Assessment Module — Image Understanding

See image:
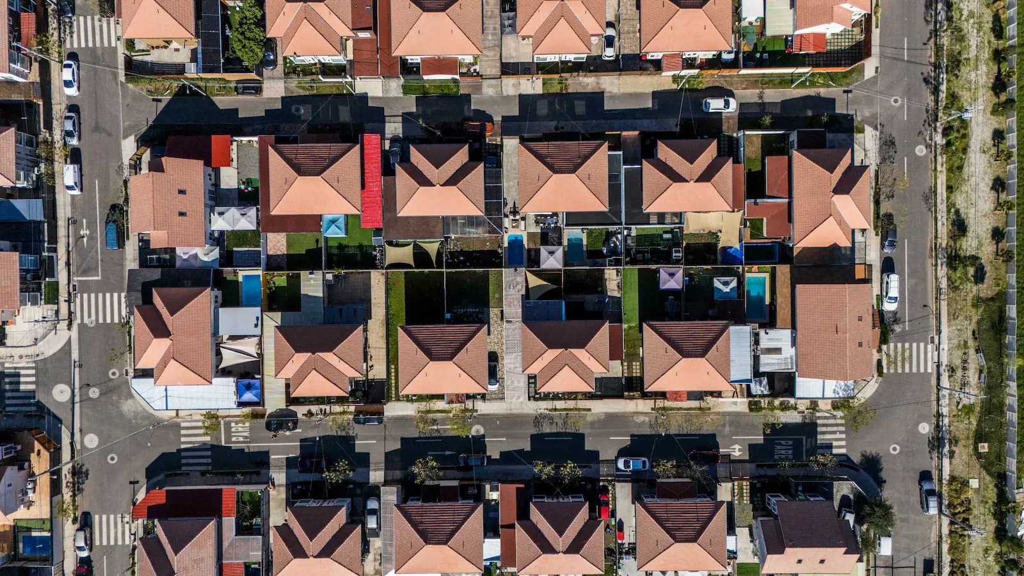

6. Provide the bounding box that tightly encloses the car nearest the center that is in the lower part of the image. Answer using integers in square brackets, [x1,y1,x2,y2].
[488,354,502,388]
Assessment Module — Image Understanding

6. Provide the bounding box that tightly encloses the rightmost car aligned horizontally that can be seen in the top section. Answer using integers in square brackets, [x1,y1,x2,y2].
[702,95,736,113]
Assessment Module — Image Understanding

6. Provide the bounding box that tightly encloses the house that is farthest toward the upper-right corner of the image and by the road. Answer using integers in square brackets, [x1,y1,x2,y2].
[784,0,872,37]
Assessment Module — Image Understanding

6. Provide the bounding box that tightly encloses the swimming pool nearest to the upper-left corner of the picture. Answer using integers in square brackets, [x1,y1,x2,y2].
[230,248,260,267]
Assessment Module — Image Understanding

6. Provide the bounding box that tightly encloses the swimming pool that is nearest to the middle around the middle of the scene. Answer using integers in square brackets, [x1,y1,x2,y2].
[505,232,525,266]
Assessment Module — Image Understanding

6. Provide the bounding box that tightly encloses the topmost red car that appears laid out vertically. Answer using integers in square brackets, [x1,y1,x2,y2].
[596,488,612,520]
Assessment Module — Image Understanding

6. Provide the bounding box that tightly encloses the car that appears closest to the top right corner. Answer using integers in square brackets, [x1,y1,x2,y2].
[879,222,898,257]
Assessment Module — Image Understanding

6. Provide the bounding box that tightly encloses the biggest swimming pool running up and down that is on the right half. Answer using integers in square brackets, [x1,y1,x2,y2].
[745,274,768,322]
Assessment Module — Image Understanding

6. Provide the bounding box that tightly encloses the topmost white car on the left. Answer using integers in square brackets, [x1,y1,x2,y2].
[63,61,83,97]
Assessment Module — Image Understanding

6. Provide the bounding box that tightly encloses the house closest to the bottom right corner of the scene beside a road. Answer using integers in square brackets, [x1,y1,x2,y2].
[751,490,871,576]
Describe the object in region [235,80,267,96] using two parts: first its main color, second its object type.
black car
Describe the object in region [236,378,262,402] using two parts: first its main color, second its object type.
blue gazebo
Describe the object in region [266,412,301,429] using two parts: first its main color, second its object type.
black car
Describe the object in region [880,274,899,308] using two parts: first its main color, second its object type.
white car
